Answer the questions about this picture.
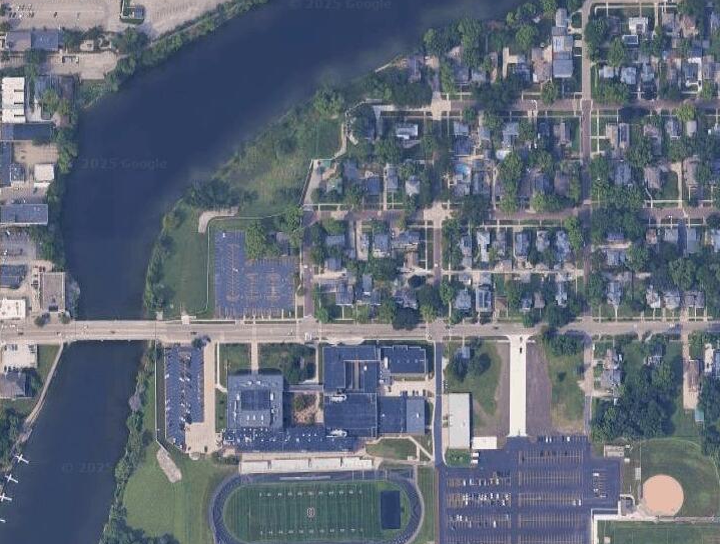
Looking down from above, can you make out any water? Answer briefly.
Yes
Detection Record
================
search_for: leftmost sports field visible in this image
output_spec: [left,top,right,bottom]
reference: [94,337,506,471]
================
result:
[225,481,412,543]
